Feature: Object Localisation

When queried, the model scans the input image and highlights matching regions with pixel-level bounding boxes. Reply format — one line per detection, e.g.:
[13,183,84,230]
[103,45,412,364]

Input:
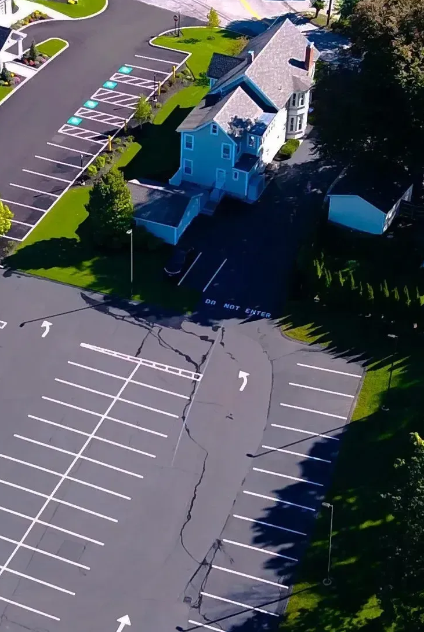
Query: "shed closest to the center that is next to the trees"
[135,184,217,245]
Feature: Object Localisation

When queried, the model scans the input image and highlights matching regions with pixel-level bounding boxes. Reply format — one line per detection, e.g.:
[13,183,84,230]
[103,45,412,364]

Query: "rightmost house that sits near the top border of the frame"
[174,17,321,197]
